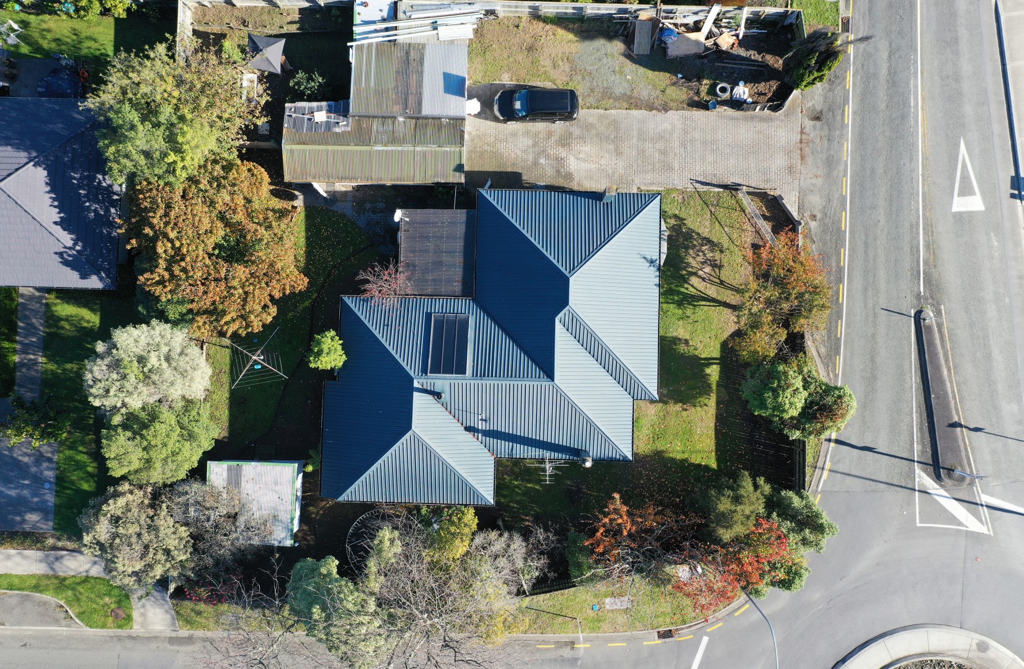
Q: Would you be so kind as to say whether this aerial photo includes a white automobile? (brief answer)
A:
No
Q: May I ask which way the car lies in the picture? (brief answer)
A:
horizontally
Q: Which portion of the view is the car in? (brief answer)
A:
top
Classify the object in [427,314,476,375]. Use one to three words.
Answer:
solar panel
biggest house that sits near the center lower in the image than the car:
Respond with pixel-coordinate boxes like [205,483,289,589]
[319,181,665,507]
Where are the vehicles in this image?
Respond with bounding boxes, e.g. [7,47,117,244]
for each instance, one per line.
[495,81,581,125]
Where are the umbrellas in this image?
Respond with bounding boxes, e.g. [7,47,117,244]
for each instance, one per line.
[247,32,286,73]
